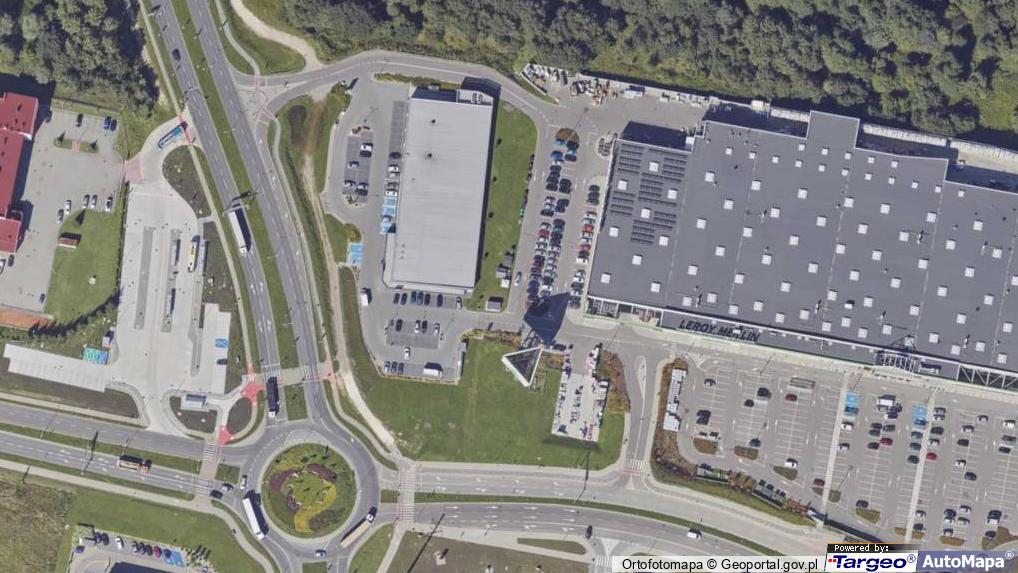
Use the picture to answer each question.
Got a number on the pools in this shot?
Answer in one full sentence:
I count no pools.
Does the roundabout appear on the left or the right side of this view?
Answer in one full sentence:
You can find the roundabout on the left side of the picture.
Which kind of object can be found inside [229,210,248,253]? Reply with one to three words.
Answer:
vehicle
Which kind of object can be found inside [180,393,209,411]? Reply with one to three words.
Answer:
building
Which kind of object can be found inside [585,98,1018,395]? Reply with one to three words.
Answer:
building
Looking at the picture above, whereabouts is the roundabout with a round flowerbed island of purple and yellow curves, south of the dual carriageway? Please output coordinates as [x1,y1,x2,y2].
[240,422,379,561]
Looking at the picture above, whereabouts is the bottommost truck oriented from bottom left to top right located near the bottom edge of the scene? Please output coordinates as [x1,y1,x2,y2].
[340,515,375,546]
